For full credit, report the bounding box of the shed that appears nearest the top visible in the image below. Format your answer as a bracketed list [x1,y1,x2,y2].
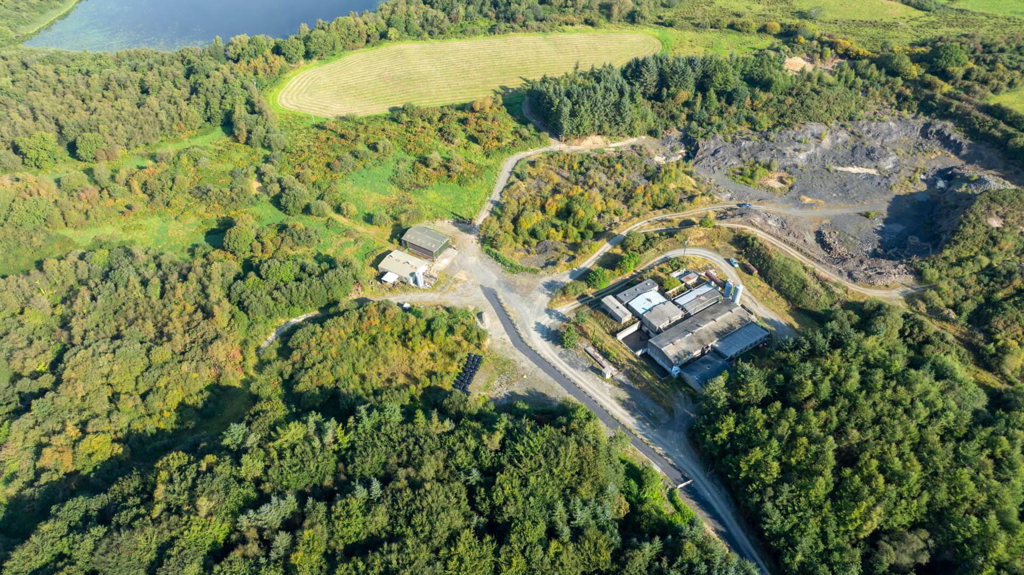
[400,224,449,260]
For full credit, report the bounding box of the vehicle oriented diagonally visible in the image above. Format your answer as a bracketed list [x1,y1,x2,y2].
[726,257,743,269]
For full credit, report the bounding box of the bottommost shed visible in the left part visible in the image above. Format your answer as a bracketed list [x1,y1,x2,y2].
[378,249,427,287]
